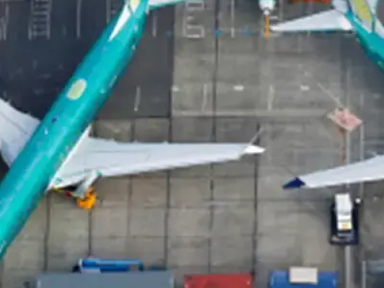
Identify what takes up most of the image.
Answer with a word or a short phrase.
paved ground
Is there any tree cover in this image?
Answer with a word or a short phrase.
No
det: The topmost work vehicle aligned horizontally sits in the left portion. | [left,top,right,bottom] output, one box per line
[79,260,151,275]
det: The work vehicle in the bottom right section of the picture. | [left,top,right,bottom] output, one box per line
[329,192,361,247]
